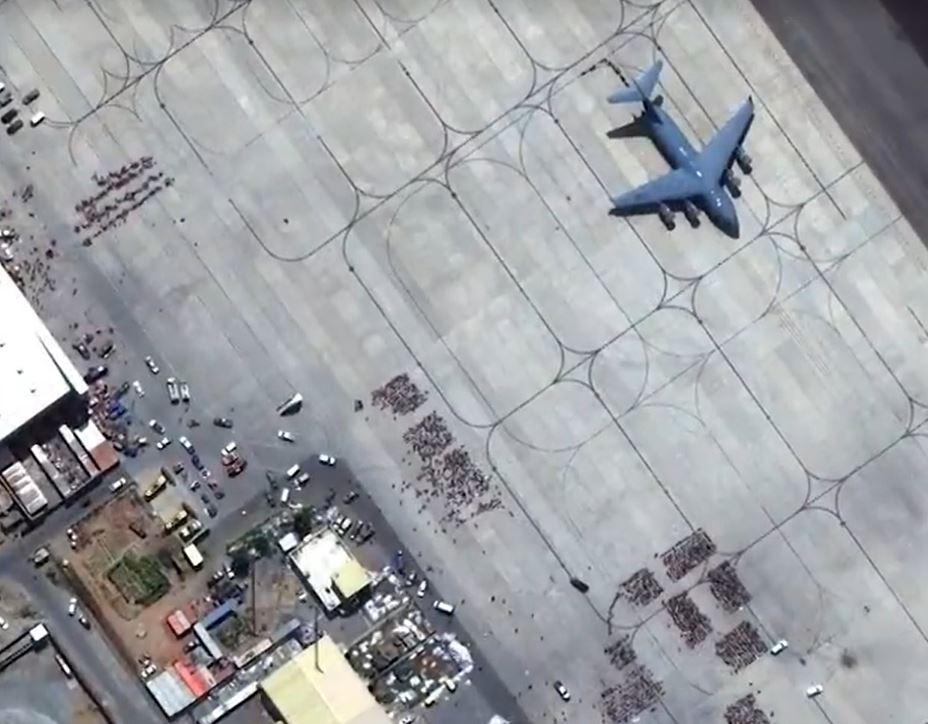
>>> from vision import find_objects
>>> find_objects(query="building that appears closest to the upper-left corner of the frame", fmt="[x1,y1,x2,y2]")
[0,253,86,439]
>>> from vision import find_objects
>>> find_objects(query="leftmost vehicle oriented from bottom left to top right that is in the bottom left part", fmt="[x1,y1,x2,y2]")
[32,549,49,563]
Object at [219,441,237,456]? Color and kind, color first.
white vehicle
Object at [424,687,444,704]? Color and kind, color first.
white vehicle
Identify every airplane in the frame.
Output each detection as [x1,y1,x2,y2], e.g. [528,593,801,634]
[607,62,755,234]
